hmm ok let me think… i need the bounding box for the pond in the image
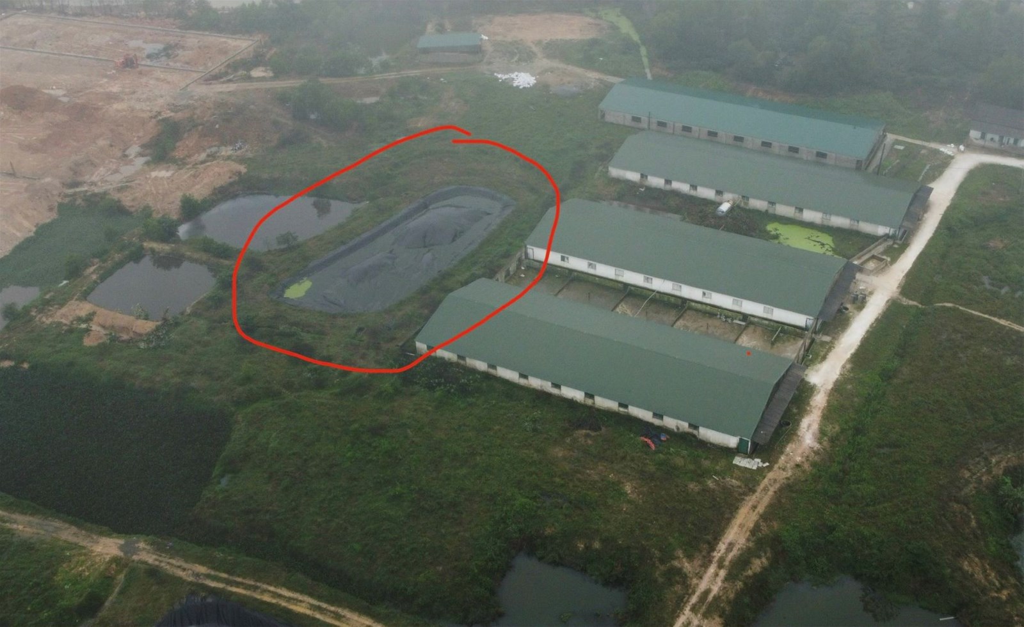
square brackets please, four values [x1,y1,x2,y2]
[274,184,518,315]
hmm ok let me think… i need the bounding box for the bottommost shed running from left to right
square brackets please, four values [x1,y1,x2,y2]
[414,277,806,455]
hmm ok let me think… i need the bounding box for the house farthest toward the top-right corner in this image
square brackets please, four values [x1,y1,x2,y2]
[968,110,1024,158]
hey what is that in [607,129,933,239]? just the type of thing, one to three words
shed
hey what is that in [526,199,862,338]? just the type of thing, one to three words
shed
